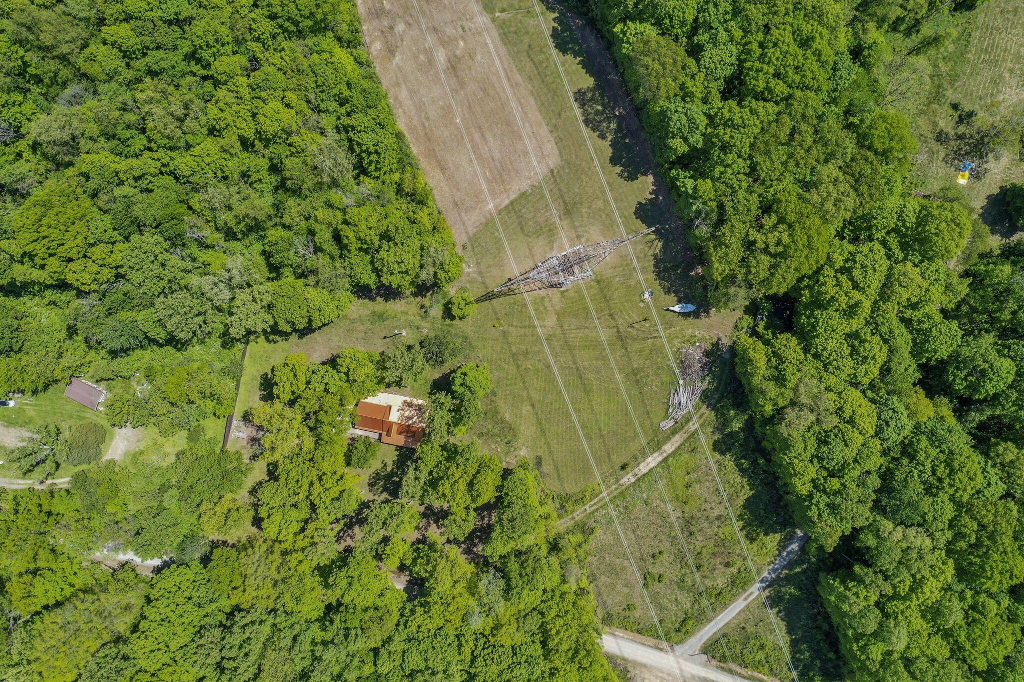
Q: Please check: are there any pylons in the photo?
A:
Yes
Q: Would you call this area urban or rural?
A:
rural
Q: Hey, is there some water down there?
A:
No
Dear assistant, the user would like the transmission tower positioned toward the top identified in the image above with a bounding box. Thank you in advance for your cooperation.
[493,228,656,293]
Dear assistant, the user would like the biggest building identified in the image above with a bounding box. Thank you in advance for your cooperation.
[354,392,428,449]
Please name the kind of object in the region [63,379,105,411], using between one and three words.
building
